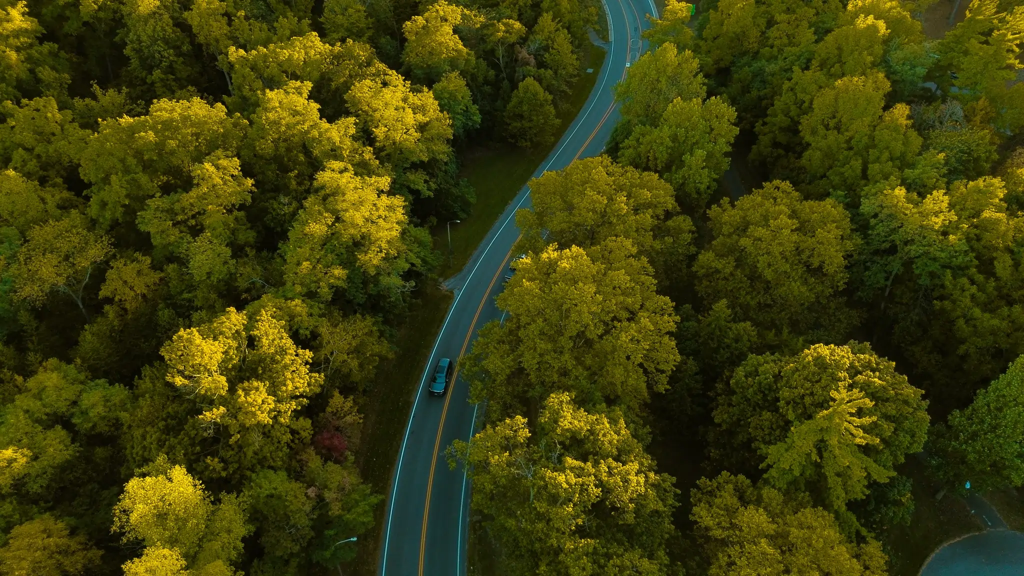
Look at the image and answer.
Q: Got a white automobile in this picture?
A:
No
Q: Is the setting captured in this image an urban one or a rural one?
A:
rural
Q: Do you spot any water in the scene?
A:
No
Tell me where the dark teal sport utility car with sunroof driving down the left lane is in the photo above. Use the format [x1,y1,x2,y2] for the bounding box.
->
[427,359,451,397]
